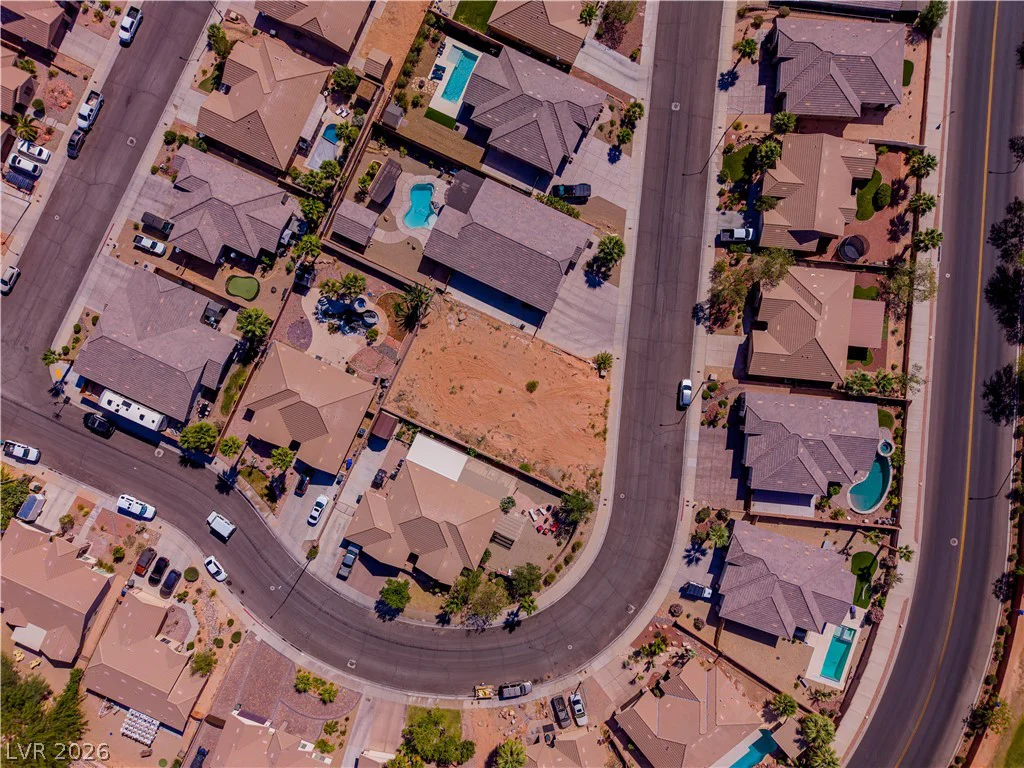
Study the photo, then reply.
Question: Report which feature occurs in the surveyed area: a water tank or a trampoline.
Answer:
trampoline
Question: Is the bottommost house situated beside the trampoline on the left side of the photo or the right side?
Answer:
right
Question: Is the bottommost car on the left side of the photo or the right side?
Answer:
left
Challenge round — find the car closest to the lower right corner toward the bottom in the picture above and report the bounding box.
[683,582,713,599]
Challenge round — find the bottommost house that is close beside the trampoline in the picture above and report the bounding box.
[746,266,856,384]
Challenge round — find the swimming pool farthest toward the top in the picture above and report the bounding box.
[439,42,481,106]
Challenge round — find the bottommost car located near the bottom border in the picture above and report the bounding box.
[189,746,209,768]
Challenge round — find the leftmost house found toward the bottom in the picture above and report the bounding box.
[0,518,113,647]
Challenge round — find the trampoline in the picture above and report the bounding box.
[837,232,869,259]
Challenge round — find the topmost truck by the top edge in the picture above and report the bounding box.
[119,5,143,46]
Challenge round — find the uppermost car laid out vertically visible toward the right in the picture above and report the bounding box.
[677,379,690,408]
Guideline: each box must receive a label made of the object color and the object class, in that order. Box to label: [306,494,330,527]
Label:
white car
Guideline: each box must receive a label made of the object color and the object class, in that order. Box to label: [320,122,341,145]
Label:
blue swimming pool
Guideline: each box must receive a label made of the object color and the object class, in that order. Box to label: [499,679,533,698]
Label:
gray vehicle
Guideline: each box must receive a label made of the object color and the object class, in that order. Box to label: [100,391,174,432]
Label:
white trailer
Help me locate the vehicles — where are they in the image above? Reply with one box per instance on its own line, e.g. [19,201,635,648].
[550,694,571,729]
[138,210,173,234]
[204,555,228,582]
[119,5,143,46]
[149,557,171,585]
[16,140,52,163]
[0,264,24,294]
[369,467,389,492]
[132,234,166,254]
[677,379,690,408]
[293,471,311,498]
[306,494,330,527]
[78,89,105,131]
[207,512,239,543]
[189,746,209,768]
[499,679,533,698]
[114,493,158,520]
[83,413,117,438]
[0,438,43,463]
[8,153,44,178]
[133,547,157,575]
[683,582,713,599]
[551,182,590,198]
[158,568,184,599]
[66,129,89,160]
[569,693,589,727]
[335,543,360,580]
[718,227,754,242]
